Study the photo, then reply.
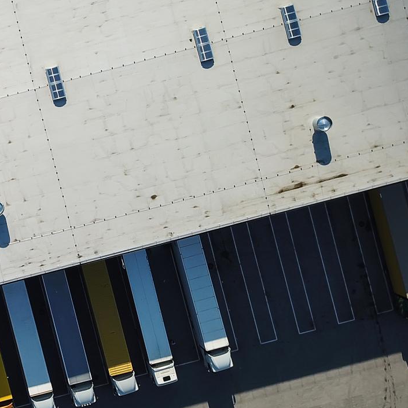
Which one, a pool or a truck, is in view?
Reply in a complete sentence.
There is a truck in the scene.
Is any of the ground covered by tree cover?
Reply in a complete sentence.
No, the picture contains no tree cover.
